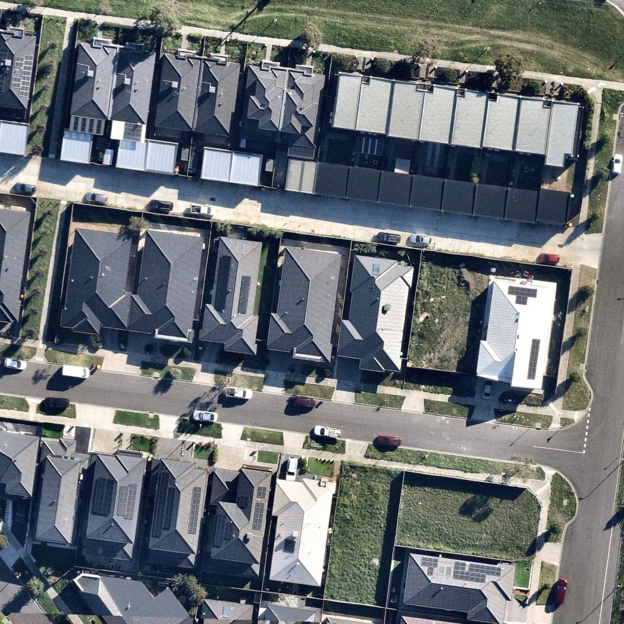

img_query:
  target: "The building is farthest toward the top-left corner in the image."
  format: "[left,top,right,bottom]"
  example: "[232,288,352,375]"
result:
[0,28,37,112]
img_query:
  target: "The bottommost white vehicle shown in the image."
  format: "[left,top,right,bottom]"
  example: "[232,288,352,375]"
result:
[285,457,297,480]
